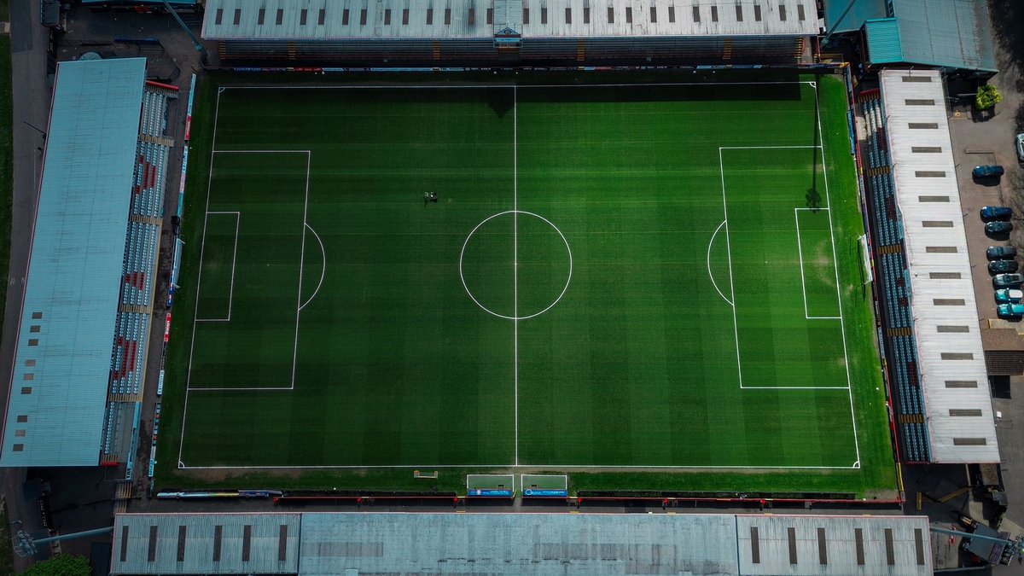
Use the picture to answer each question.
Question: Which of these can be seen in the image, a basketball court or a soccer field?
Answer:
soccer field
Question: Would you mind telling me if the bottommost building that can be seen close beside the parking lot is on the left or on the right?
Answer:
right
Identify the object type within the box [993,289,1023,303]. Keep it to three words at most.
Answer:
car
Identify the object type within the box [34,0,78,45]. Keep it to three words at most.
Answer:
shed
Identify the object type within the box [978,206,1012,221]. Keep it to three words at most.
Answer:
car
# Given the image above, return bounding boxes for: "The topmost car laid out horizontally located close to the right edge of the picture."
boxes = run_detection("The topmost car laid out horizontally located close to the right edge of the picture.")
[970,166,1005,181]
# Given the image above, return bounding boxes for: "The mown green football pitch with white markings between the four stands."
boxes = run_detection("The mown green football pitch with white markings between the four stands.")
[154,66,899,499]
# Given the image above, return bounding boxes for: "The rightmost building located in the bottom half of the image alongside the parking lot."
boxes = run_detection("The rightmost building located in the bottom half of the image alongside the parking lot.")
[980,326,1024,376]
